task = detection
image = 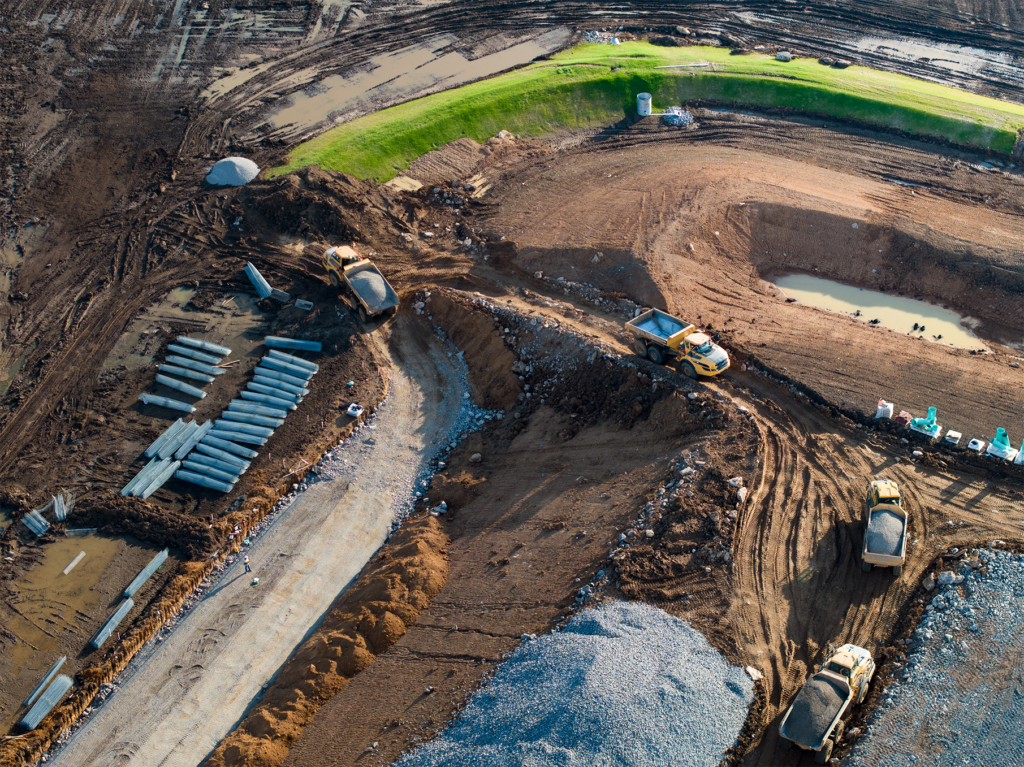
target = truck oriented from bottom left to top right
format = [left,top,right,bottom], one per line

[776,634,881,767]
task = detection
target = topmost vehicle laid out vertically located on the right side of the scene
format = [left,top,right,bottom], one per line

[859,473,909,577]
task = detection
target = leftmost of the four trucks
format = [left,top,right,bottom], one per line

[323,246,399,330]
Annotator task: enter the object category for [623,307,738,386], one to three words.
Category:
truck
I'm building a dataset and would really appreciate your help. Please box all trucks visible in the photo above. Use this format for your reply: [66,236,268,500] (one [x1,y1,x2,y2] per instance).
[623,307,738,386]
[323,246,399,330]
[776,634,881,767]
[859,473,909,577]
